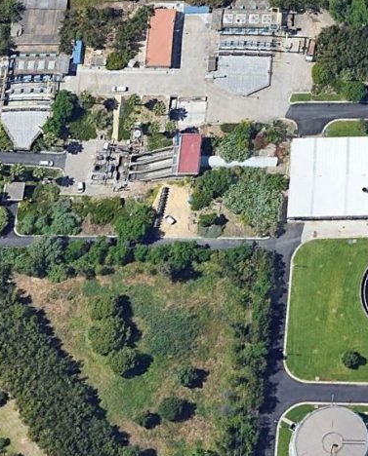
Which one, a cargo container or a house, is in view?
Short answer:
house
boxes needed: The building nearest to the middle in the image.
[178,134,204,180]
